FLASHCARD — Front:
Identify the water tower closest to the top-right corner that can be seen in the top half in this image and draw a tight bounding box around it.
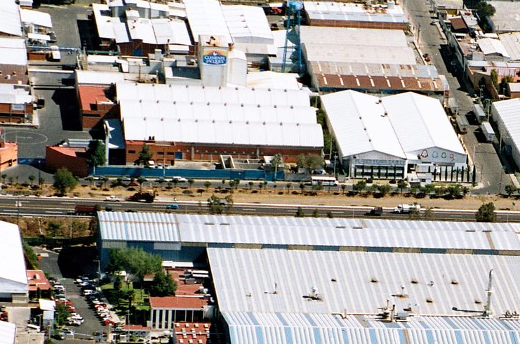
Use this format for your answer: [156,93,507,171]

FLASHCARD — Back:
[282,0,304,74]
